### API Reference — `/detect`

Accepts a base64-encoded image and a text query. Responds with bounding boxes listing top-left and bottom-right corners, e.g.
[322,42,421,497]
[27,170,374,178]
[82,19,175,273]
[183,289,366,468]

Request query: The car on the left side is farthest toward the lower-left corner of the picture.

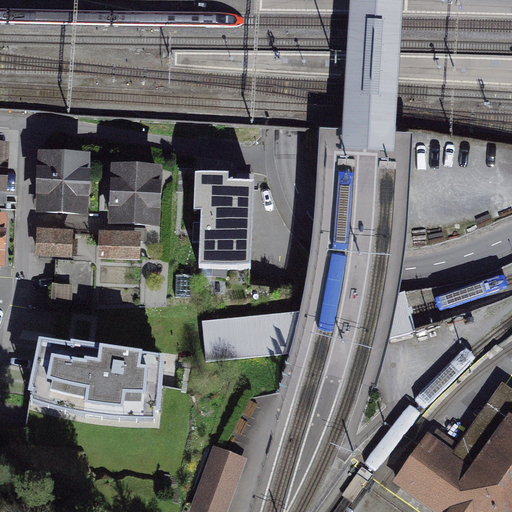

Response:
[6,356,32,368]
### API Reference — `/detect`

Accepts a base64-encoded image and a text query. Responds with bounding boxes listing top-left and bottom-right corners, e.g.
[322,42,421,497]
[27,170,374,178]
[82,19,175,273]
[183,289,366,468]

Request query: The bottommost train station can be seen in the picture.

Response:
[258,128,412,512]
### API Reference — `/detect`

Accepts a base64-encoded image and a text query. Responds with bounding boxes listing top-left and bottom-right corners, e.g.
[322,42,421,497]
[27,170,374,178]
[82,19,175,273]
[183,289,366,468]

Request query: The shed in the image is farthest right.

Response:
[454,382,512,461]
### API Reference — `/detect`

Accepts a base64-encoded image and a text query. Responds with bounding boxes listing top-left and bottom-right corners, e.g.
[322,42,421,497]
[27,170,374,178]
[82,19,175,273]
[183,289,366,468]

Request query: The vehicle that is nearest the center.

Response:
[261,188,274,214]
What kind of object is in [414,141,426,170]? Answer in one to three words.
vehicle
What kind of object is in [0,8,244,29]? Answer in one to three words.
train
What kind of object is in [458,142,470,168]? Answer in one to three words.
vehicle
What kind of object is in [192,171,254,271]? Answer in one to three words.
building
